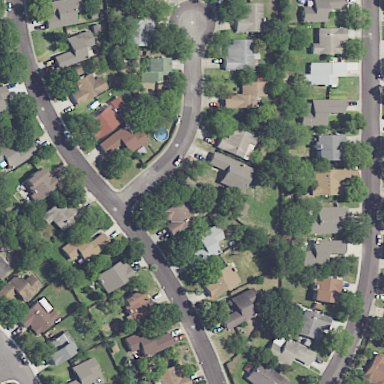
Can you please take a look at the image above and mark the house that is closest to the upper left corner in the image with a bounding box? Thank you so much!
[48,0,80,29]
